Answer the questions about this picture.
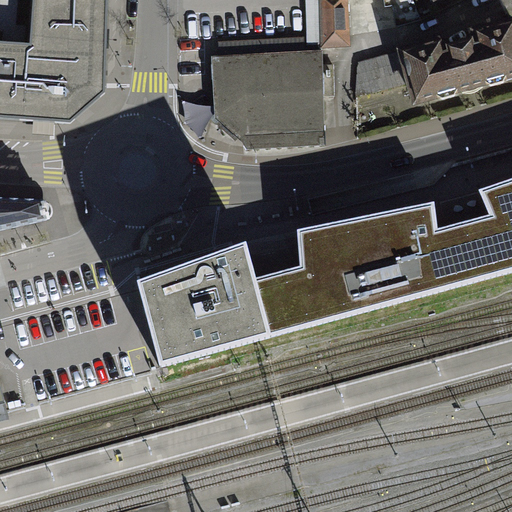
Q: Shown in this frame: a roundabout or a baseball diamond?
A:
roundabout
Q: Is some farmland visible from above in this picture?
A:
No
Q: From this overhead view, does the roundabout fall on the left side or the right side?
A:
left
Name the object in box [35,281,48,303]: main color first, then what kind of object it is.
white vehicle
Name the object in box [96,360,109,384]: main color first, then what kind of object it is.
red vehicle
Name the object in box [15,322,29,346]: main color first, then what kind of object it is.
white vehicle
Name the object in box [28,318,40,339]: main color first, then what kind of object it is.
red vehicle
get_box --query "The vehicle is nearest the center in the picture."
[188,154,208,168]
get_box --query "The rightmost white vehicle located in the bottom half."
[120,354,132,375]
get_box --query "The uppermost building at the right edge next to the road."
[396,22,512,106]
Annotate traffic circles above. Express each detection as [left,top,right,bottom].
[81,112,195,228]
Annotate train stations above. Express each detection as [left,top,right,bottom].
[0,338,512,509]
